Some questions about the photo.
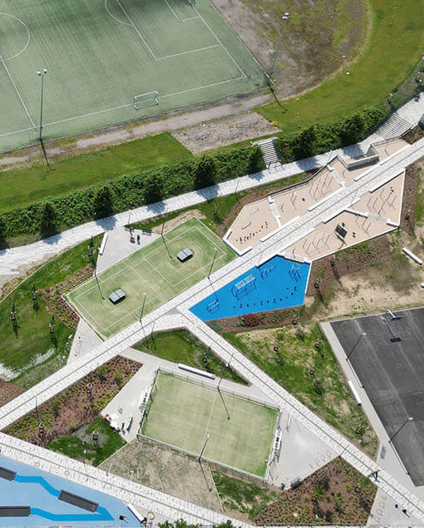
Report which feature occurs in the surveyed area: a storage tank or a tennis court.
tennis court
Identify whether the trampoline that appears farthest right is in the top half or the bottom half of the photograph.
bottom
